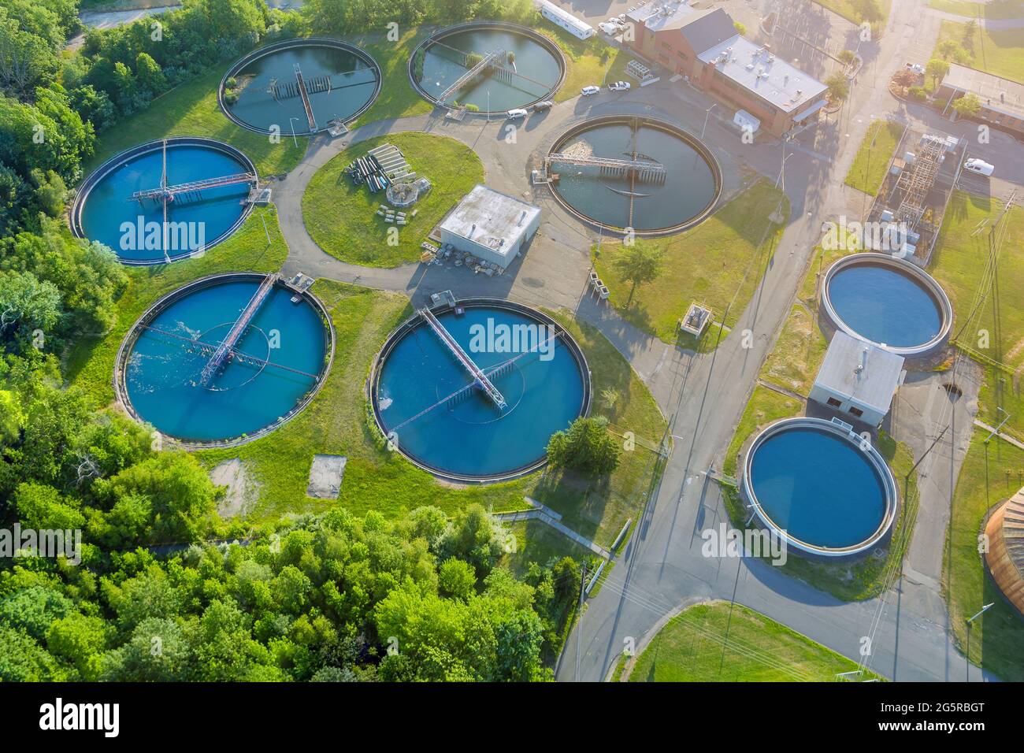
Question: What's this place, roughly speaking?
industrial area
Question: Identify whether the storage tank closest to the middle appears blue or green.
blue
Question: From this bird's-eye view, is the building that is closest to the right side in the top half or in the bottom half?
top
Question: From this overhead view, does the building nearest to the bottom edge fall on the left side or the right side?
right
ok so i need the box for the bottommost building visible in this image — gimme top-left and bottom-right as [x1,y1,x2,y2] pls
[809,330,907,425]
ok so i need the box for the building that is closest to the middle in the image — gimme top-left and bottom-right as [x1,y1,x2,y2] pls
[432,184,540,270]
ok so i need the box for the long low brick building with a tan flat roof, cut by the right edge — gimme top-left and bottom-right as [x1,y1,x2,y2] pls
[940,62,1024,129]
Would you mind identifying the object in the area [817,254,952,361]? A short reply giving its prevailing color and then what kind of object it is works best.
blue water tank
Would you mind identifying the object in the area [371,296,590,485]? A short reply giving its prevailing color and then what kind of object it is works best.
blue storage tank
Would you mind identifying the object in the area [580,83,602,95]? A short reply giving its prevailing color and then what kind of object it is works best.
white vehicle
